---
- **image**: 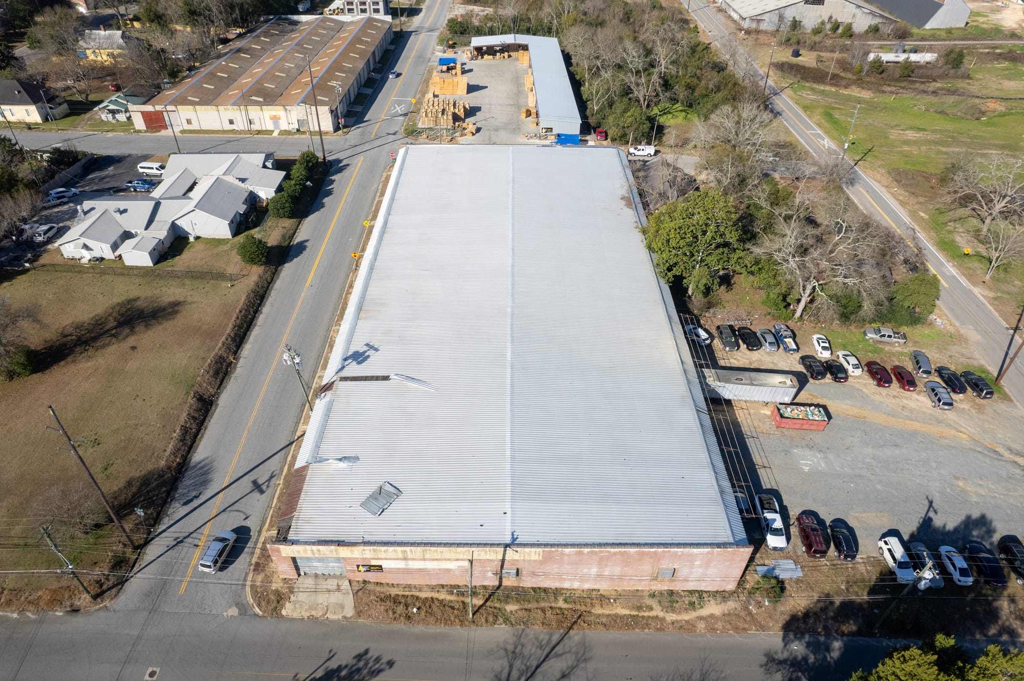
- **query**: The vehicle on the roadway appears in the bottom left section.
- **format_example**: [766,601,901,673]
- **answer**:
[198,531,236,575]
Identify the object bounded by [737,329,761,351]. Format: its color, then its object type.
black car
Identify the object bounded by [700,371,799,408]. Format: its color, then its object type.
white trailer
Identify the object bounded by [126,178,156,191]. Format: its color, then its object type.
blue vehicle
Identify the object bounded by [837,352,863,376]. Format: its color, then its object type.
white car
